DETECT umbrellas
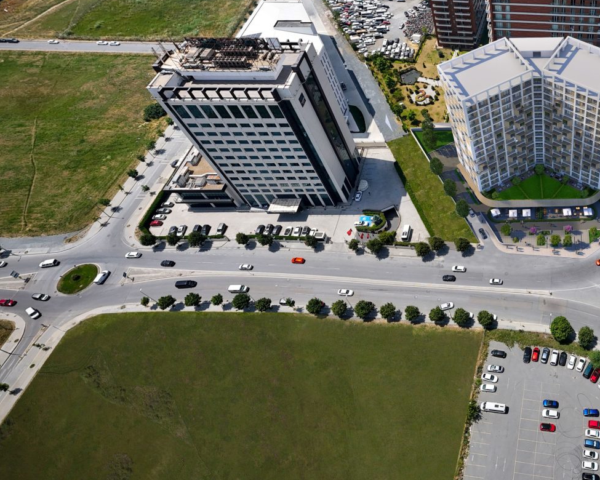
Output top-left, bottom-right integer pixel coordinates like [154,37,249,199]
[562,209,572,216]
[583,208,593,216]
[522,210,532,217]
[490,209,501,217]
[508,210,518,218]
